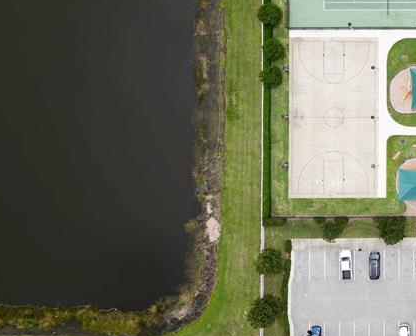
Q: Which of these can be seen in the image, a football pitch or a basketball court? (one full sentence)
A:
Of the two, only a basketball court appears.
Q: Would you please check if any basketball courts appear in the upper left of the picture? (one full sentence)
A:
No, no basketball court is visible in the upper left of the picture.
